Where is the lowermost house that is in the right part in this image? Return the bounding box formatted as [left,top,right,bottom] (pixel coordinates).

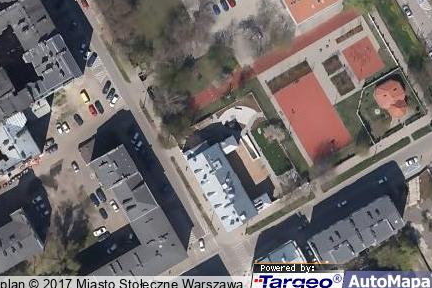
[251,238,306,286]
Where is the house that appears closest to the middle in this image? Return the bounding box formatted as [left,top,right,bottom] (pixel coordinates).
[186,135,271,234]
